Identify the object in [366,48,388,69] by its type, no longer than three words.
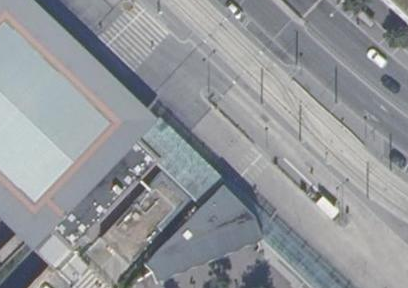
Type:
car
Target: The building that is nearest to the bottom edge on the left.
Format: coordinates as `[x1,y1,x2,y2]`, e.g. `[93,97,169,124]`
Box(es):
[60,254,88,282]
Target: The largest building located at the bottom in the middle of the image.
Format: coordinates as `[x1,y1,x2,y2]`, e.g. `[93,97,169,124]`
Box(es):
[146,185,262,283]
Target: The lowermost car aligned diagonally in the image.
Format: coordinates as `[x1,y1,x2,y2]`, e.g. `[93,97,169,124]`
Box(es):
[387,149,408,169]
